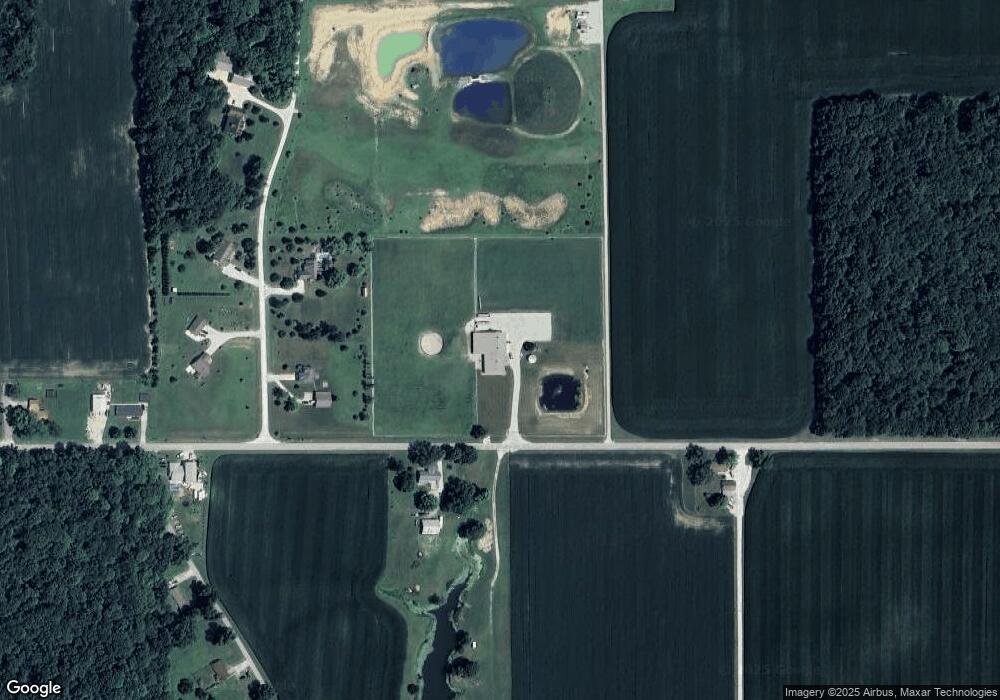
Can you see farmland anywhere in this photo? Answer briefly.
Yes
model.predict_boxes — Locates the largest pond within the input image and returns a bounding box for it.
[441,18,530,76]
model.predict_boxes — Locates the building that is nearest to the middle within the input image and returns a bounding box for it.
[474,333,510,375]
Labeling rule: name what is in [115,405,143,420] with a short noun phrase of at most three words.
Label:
house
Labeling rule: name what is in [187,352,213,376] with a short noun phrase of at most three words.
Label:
house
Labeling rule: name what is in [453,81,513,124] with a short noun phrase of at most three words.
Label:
pond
